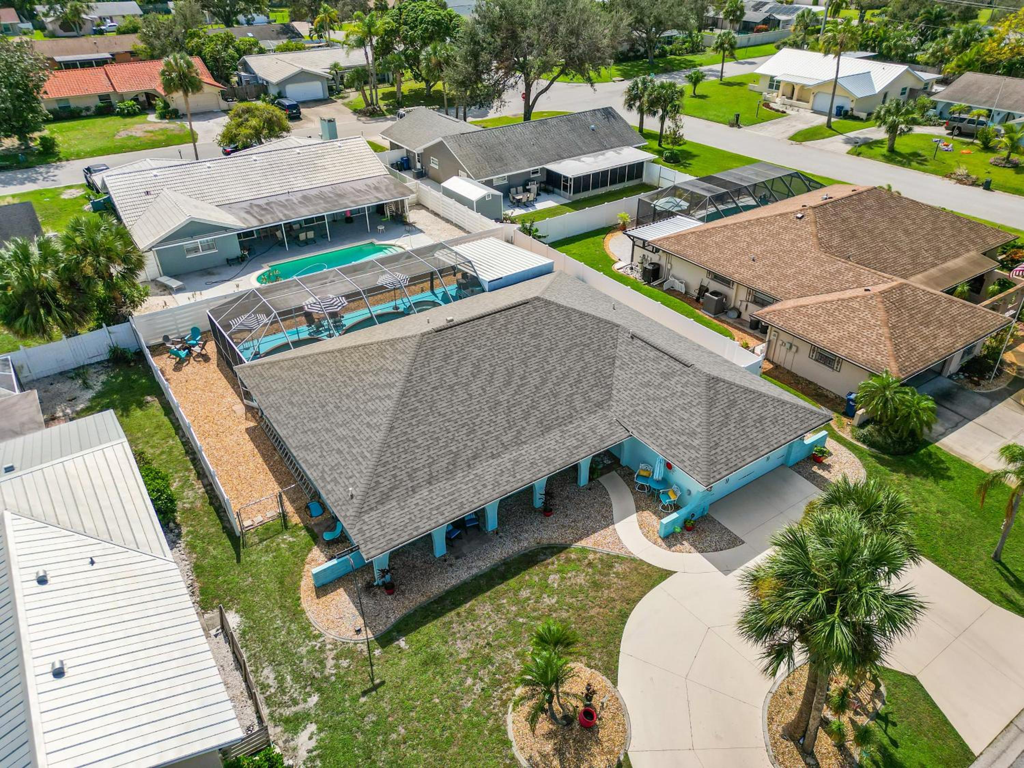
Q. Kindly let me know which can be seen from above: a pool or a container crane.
pool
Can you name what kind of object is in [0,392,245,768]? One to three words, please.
house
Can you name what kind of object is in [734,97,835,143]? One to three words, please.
house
